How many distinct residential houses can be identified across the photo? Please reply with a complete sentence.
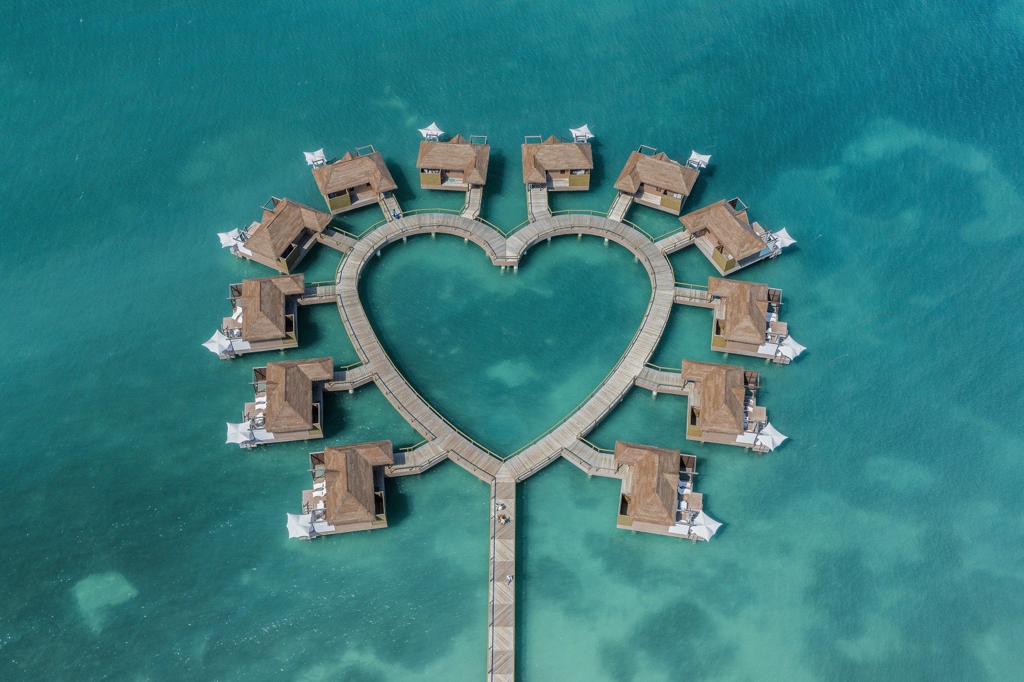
In total, there are 12 residential houses in the scene.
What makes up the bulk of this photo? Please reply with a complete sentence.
What you mostly see from above here is water.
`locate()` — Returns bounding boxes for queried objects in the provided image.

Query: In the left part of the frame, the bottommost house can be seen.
[300,438,394,543]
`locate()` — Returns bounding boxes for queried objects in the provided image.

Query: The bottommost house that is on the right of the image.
[613,440,705,546]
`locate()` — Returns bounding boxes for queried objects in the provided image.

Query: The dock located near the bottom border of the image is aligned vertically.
[485,479,516,682]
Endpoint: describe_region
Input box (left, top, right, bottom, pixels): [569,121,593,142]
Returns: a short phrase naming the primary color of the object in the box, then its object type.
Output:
white umbrella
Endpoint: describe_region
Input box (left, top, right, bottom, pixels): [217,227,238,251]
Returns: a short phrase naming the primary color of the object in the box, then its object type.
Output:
white umbrella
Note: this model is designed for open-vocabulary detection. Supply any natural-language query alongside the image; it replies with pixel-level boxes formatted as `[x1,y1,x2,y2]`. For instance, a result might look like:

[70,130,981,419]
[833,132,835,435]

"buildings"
[706,275,789,366]
[416,130,489,197]
[677,194,778,276]
[221,272,307,361]
[314,144,394,215]
[241,356,332,452]
[521,131,593,197]
[613,440,705,546]
[616,144,698,216]
[300,438,394,543]
[233,194,335,274]
[679,358,768,456]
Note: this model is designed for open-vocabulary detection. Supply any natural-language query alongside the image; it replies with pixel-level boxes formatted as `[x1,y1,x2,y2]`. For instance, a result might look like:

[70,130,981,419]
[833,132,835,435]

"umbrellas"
[686,145,711,169]
[226,420,248,447]
[685,508,723,544]
[217,227,238,251]
[778,332,810,361]
[284,510,313,540]
[569,121,593,142]
[202,329,233,356]
[417,118,441,141]
[301,144,327,168]
[769,223,797,248]
[760,422,790,450]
